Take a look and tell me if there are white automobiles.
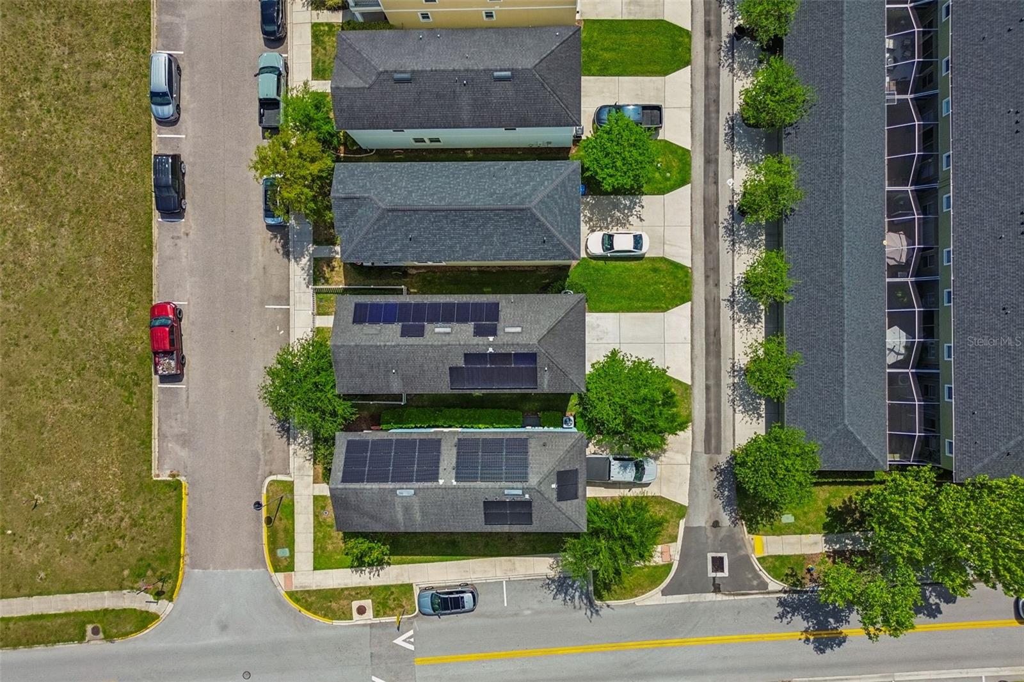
Yes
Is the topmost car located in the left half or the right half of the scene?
left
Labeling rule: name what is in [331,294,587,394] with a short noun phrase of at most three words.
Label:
house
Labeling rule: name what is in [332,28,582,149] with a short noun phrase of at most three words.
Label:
house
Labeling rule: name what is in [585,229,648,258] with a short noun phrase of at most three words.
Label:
car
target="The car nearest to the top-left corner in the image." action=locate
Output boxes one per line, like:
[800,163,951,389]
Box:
[148,56,183,124]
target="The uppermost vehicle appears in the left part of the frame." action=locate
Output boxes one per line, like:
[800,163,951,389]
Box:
[261,0,288,41]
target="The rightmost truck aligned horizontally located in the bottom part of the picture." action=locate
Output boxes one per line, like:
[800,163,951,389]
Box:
[586,453,658,485]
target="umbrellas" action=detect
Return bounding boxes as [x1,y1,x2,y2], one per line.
[888,230,916,266]
[888,326,913,365]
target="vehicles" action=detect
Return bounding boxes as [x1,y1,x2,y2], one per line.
[418,585,479,620]
[593,101,663,134]
[586,453,658,485]
[255,54,290,130]
[260,176,290,229]
[261,0,288,41]
[149,303,186,377]
[585,229,648,258]
[153,157,188,214]
[148,56,183,124]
